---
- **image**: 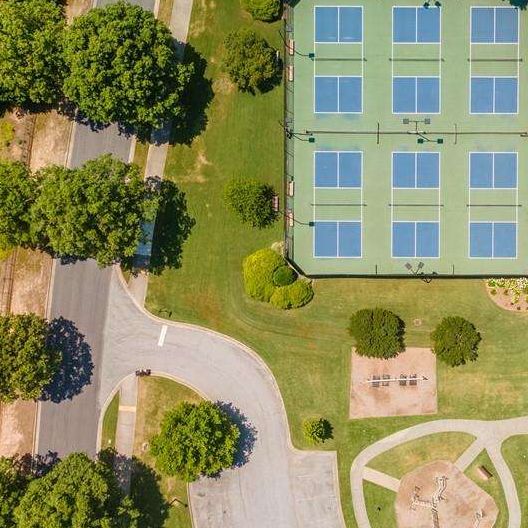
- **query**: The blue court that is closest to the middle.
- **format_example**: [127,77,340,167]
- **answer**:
[309,152,366,258]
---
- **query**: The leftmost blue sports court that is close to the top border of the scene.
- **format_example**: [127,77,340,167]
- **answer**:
[309,6,367,114]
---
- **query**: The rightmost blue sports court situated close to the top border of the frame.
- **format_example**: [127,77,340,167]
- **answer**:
[465,6,523,114]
